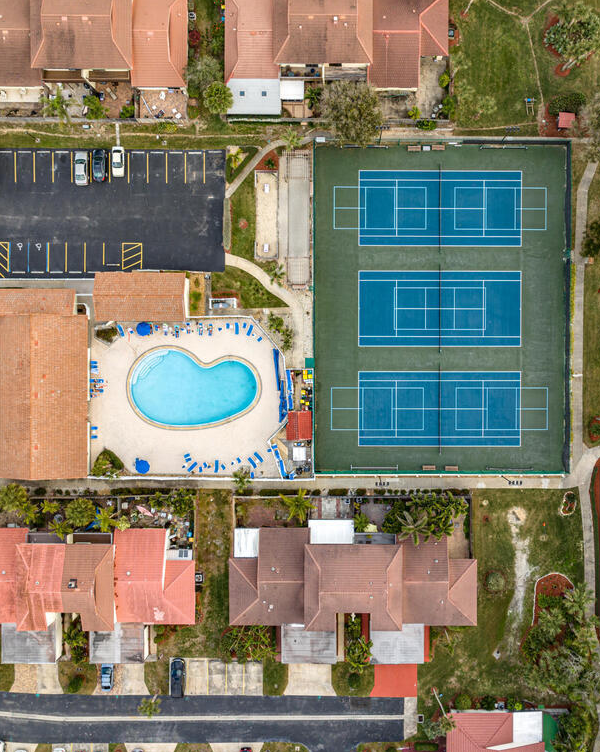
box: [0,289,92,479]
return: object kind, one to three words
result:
building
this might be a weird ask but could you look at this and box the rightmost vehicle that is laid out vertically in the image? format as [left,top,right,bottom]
[169,657,186,698]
